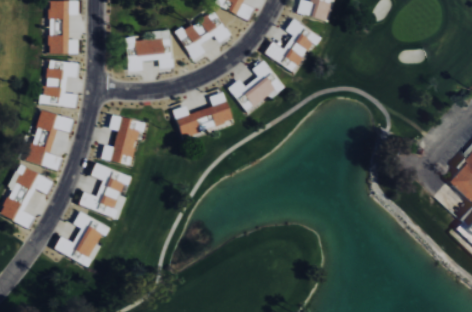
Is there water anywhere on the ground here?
Yes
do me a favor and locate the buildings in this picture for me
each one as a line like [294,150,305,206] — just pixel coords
[54,212,110,267]
[448,144,472,243]
[78,163,132,220]
[215,0,254,21]
[24,110,74,171]
[227,60,285,115]
[296,0,334,22]
[48,0,80,55]
[0,164,54,229]
[125,30,174,75]
[264,18,322,74]
[174,12,231,63]
[100,115,146,166]
[172,92,232,137]
[38,60,80,108]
